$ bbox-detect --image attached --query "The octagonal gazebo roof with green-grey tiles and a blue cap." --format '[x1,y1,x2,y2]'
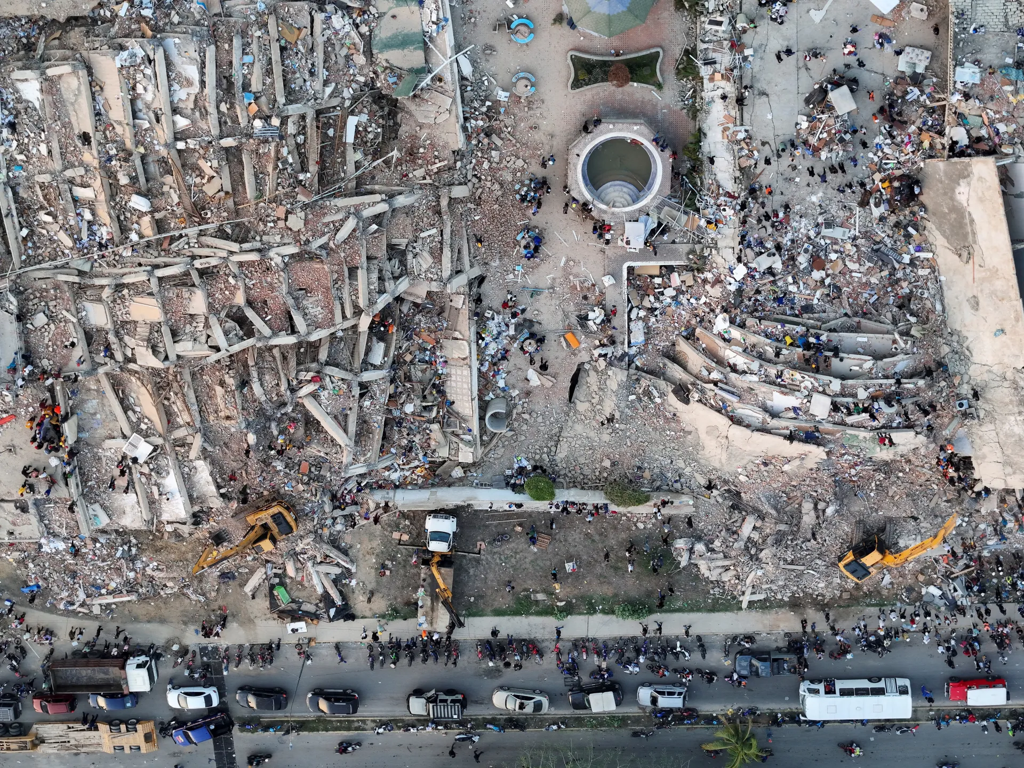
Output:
[561,0,658,44]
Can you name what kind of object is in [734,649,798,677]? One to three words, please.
truck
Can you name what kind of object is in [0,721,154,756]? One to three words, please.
trailer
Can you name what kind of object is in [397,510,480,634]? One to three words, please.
truck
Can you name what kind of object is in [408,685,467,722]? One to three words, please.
car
